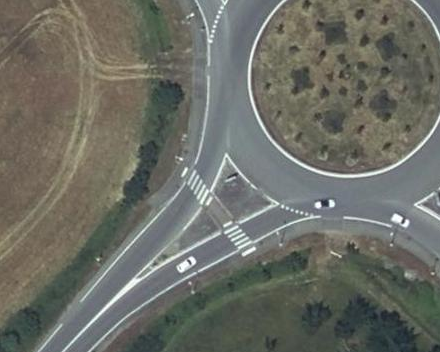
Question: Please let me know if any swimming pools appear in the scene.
No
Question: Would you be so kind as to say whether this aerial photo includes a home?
No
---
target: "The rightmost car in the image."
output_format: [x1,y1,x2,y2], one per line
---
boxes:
[390,213,410,227]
